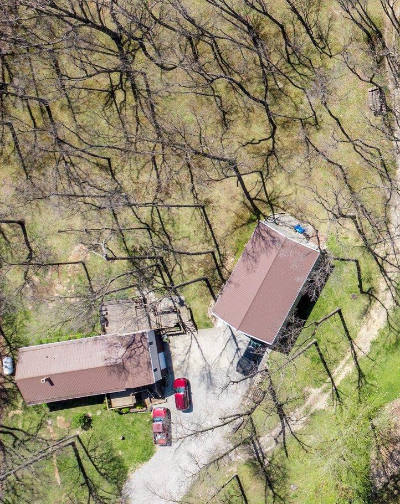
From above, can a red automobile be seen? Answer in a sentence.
Yes, the image includes a red automobile.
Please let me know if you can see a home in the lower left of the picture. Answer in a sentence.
Yes, looking in the lower left of the picture, one can make out a home.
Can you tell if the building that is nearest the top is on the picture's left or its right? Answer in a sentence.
You can find the building that is nearest the top on the right side of the picture.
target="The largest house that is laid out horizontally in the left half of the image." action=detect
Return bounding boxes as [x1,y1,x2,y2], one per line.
[13,328,170,405]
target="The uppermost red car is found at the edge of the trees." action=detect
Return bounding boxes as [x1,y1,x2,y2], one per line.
[172,377,191,411]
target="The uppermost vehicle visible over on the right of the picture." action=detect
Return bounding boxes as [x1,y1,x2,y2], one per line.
[237,339,263,372]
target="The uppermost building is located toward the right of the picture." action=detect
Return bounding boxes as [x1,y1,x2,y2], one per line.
[212,220,324,344]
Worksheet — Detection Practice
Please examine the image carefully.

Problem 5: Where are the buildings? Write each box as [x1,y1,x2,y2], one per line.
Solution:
[13,328,170,405]
[212,220,324,344]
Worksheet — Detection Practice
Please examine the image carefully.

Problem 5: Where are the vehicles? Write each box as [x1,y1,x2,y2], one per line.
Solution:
[237,339,263,372]
[153,407,171,448]
[172,377,191,411]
